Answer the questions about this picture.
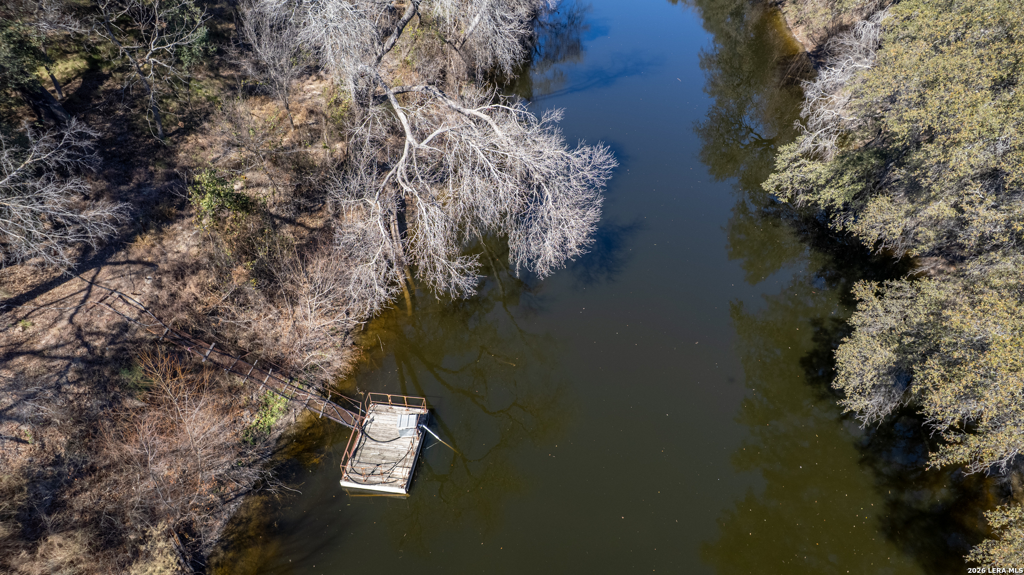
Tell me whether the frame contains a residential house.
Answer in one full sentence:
No, I can see no residential house in this picture.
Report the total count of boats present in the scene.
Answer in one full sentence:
There are no boats in this view.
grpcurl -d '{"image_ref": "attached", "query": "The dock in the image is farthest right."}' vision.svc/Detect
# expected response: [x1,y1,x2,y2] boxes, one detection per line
[336,394,430,496]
